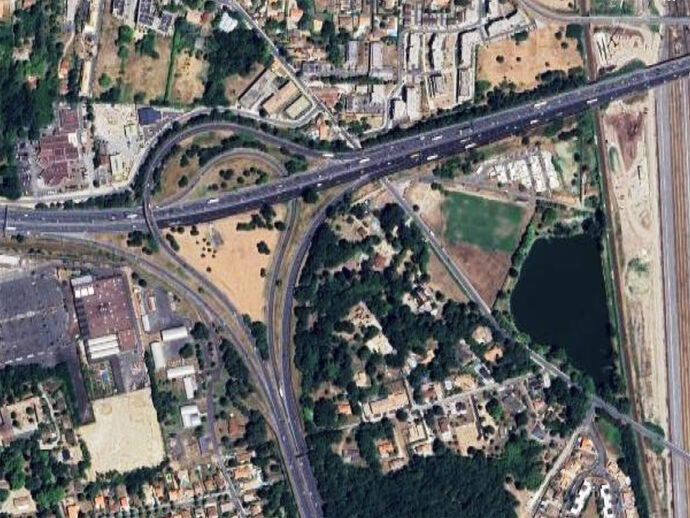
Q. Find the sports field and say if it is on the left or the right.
right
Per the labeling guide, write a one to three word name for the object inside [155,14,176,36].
building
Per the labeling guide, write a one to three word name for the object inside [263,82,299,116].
building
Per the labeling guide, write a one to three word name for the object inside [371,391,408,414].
house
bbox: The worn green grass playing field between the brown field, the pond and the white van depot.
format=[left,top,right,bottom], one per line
[441,191,526,252]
